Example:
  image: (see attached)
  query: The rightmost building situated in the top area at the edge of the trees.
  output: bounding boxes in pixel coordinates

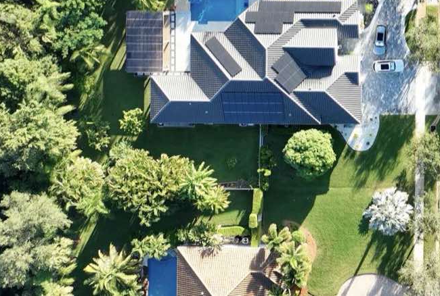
[150,0,363,125]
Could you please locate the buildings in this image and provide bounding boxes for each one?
[150,0,363,125]
[176,243,292,296]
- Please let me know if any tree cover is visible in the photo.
Yes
